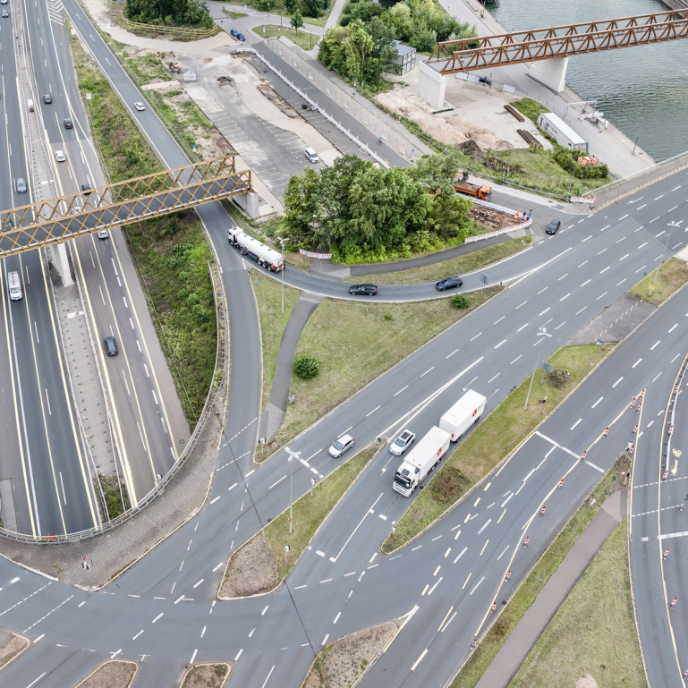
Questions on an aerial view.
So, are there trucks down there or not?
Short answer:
Yes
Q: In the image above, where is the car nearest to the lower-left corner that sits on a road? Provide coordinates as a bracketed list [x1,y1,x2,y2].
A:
[103,335,117,354]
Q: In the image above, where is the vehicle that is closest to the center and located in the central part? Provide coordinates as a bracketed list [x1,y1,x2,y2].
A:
[348,280,379,295]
